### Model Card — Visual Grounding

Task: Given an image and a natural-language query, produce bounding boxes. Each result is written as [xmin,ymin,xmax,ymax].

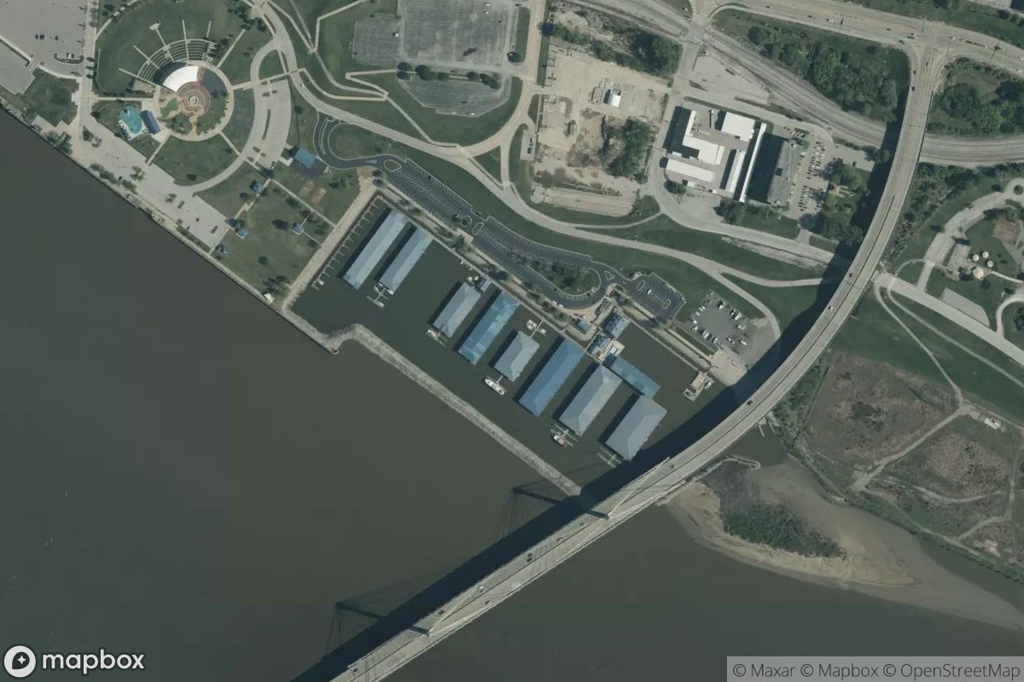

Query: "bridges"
[331,45,952,682]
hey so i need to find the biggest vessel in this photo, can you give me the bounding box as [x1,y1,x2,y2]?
[684,371,714,402]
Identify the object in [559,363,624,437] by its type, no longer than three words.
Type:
building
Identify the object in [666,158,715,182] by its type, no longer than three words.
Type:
building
